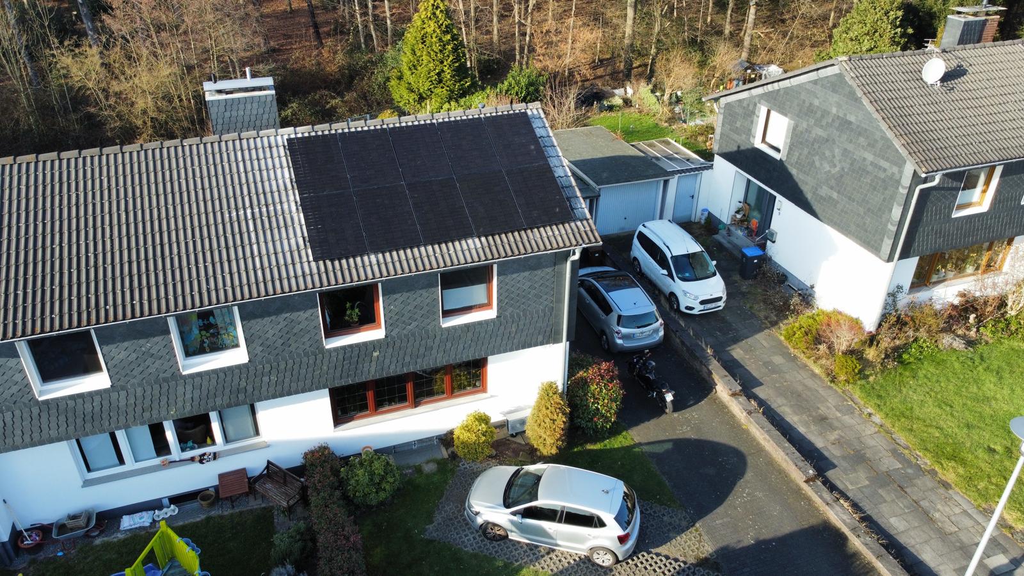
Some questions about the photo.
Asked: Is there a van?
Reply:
Yes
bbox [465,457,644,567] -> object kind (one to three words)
car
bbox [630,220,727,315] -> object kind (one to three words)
van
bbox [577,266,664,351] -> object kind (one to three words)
car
